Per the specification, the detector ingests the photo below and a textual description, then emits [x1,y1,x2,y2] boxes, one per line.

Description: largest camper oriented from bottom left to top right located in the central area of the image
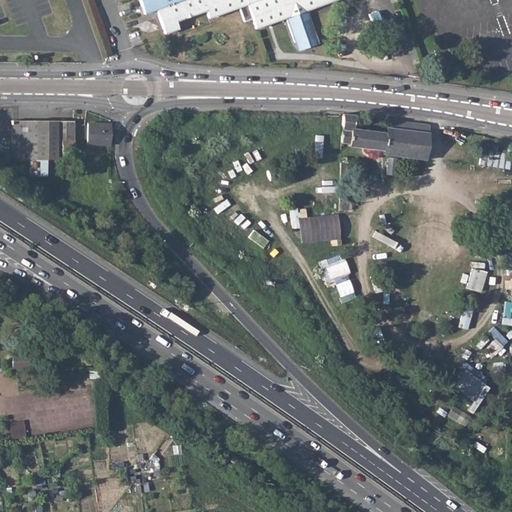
[212,199,231,214]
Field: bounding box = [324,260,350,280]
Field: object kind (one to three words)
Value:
house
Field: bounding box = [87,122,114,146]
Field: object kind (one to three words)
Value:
house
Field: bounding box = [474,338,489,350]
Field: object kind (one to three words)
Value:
vehicle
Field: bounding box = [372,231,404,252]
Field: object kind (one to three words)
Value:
vehicle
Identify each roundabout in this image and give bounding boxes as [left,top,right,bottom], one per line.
[110,67,174,114]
